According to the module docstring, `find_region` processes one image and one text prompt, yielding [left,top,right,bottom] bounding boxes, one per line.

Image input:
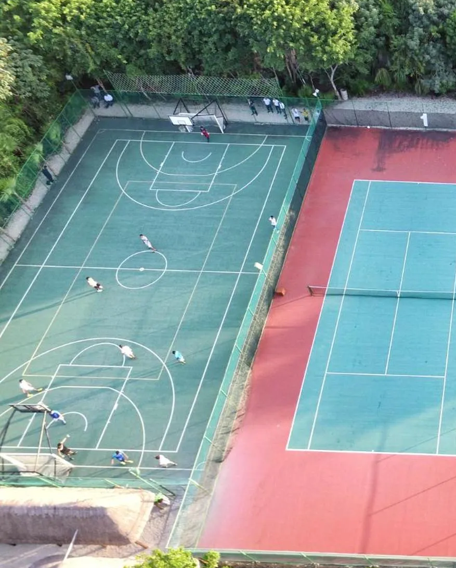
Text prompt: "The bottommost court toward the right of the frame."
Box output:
[197,127,456,568]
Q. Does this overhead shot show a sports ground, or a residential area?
sports ground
